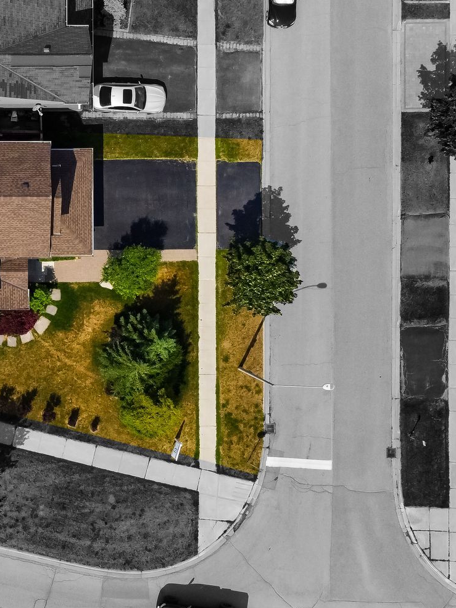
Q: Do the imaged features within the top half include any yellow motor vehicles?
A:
No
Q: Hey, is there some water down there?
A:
No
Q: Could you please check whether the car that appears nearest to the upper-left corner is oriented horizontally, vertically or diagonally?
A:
horizontally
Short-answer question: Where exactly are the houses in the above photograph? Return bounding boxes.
[0,140,96,312]
[0,0,94,118]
